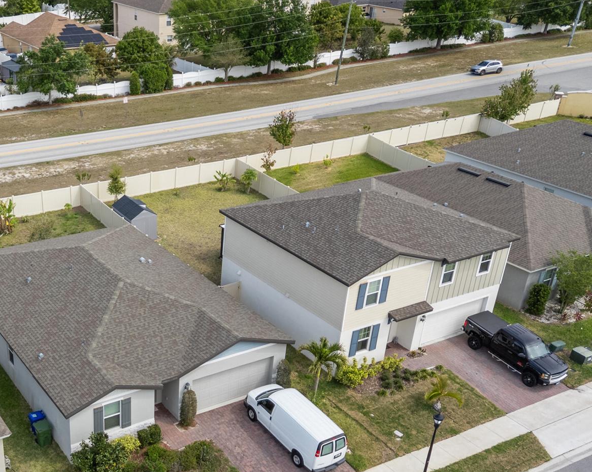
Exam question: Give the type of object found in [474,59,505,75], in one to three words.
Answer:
car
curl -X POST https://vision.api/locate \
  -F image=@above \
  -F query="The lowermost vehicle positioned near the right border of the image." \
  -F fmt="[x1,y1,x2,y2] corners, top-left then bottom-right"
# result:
[463,313,575,387]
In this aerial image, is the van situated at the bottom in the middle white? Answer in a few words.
Yes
